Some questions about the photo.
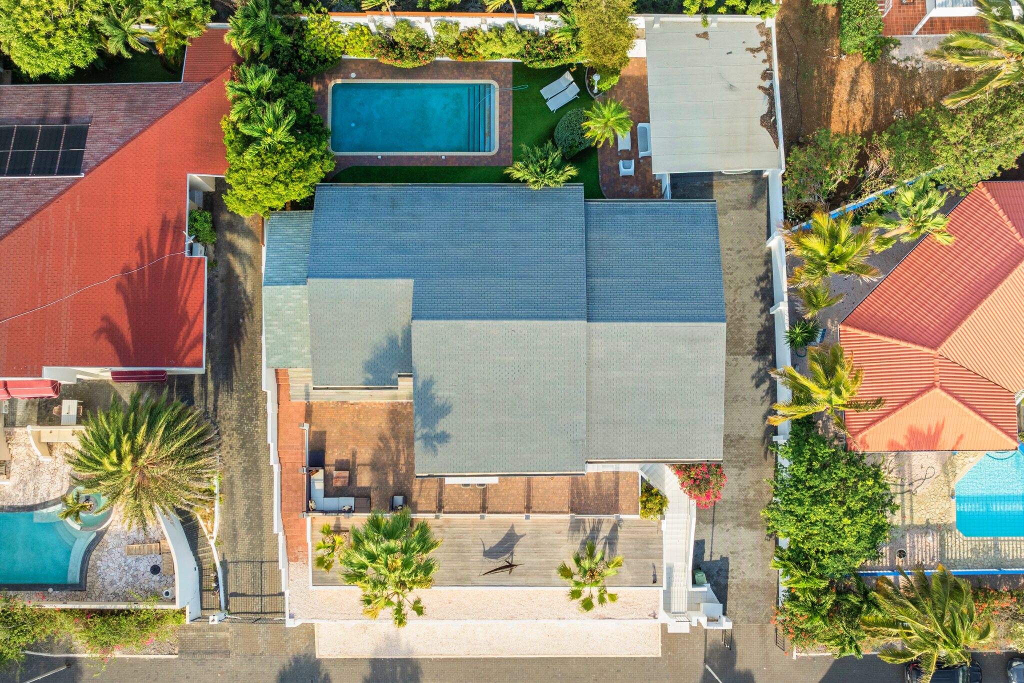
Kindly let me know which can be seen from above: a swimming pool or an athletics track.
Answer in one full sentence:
It is a swimming pool that can be seen here.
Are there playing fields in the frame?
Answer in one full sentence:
No, the picture doesn't show any playing field.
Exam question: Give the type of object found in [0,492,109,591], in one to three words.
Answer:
swimming pool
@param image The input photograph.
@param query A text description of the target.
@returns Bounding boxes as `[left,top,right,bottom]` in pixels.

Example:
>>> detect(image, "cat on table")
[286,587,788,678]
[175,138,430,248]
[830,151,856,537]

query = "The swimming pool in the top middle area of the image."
[328,78,499,154]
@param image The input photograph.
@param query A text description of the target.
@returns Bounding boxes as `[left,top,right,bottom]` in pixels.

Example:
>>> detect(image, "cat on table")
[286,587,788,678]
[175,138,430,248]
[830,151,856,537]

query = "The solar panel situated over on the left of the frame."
[0,123,91,176]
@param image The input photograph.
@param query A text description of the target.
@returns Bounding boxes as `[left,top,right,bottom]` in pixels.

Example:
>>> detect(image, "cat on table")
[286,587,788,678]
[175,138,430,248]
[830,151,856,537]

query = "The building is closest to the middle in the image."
[262,181,726,479]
